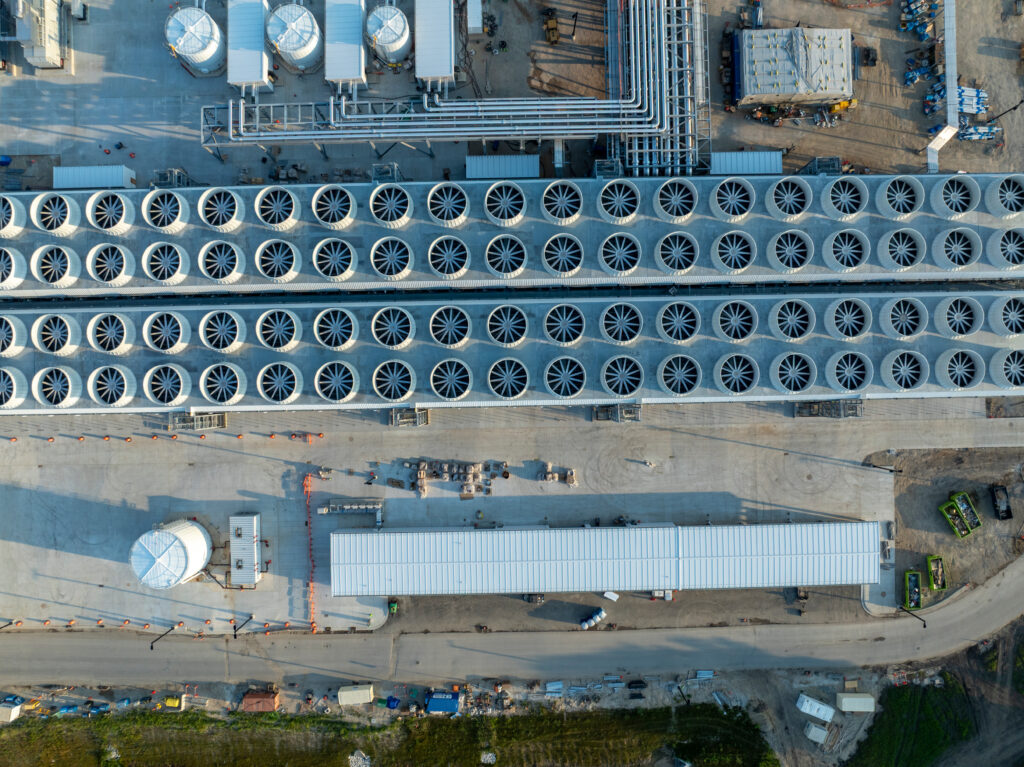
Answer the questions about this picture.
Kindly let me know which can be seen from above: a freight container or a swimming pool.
freight container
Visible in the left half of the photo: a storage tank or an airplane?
storage tank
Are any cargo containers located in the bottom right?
Yes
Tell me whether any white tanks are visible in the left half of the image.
Yes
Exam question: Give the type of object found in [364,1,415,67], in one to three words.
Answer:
storage tank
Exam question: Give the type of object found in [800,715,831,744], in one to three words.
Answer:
shipping container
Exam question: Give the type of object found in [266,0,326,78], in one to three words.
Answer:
storage tank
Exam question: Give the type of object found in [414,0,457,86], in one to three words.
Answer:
shed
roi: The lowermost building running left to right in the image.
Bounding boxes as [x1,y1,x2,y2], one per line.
[330,509,881,597]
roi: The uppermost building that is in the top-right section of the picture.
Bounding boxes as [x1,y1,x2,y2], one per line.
[730,27,852,111]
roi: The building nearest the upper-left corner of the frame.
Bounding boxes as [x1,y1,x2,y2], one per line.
[11,0,66,68]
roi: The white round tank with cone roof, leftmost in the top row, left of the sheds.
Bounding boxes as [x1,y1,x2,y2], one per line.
[163,1,228,80]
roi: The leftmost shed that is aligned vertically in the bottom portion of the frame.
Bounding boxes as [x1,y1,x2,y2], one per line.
[230,513,261,585]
